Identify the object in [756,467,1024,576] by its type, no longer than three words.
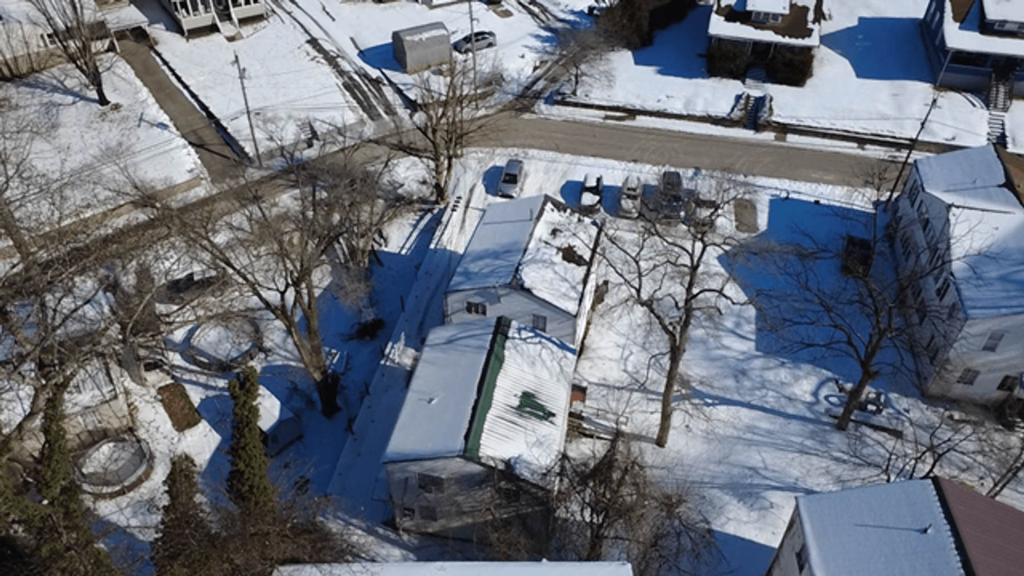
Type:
house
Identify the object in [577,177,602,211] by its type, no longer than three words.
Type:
car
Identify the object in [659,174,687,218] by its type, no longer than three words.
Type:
car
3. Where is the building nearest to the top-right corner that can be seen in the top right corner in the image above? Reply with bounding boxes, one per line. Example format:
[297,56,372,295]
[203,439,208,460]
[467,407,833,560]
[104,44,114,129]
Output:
[925,0,1024,106]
